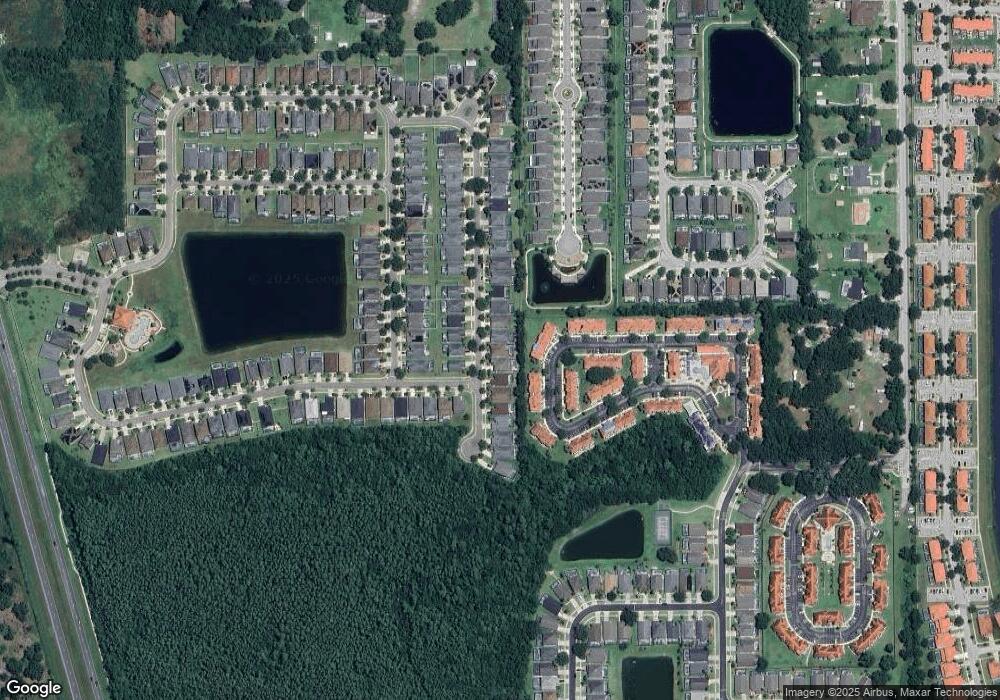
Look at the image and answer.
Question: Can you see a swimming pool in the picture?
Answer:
Yes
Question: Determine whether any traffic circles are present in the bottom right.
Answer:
No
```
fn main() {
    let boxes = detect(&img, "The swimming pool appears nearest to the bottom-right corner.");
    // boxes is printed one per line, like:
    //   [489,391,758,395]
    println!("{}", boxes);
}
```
[817,526,838,564]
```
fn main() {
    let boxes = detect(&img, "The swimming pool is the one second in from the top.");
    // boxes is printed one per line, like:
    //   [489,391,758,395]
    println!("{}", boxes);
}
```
[688,355,710,381]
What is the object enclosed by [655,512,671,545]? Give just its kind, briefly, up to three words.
sports court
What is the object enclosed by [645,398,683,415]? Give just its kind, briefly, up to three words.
building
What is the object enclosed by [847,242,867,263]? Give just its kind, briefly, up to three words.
house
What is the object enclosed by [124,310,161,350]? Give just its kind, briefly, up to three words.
swimming pool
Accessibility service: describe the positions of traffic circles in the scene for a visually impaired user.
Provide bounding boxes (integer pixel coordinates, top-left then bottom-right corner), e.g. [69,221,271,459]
[553,73,581,111]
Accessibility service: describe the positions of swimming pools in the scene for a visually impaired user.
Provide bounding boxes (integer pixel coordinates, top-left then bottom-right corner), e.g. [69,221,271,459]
[124,310,161,350]
[817,526,838,564]
[688,355,710,381]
